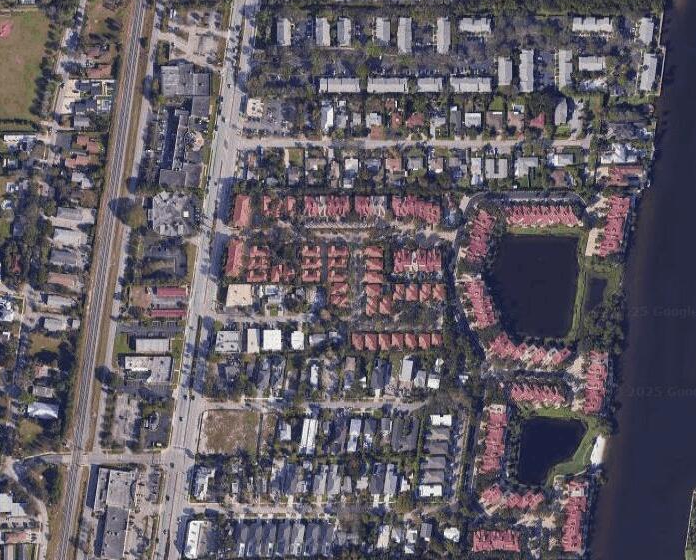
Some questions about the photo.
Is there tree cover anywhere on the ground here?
Yes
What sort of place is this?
residential area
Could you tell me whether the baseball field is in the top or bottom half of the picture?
top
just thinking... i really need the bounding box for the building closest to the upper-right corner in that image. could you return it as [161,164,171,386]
[638,16,655,44]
